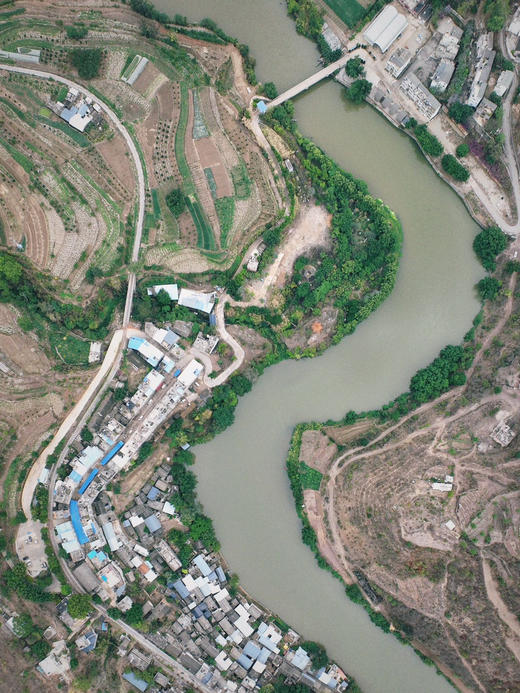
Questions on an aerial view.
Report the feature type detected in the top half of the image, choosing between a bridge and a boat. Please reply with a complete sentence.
You can see a bridge in the top half of the image.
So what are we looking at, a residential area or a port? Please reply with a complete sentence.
This image shows a residential area.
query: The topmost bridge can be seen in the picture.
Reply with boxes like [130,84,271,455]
[263,53,353,112]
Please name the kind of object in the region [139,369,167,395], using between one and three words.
house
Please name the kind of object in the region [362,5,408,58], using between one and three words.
building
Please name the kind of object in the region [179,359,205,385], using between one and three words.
house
